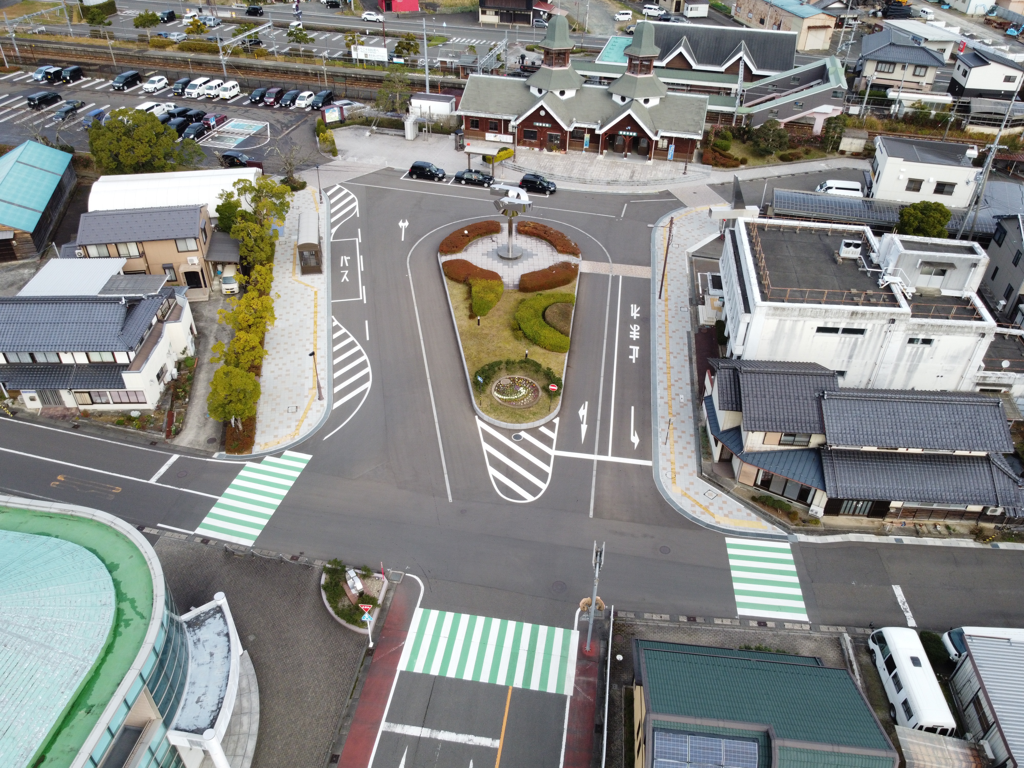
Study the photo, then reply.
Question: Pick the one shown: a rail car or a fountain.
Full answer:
I can see a rail car in this picture.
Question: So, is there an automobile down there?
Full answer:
Yes, I can see an automobile in this picture.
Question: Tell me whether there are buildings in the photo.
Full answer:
Yes, the photo shows a building.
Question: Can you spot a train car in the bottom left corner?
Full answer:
No, no train car is visible in the bottom left corner.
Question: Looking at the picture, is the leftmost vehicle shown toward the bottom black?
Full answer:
No, the color of the leftmost vehicle shown toward the bottom is white.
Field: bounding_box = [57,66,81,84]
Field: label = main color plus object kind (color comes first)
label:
black car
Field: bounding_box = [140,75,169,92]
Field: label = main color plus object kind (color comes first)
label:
white car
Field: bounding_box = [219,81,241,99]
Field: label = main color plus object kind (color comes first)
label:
white car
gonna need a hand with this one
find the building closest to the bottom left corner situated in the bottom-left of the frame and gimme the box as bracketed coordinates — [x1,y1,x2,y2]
[0,496,193,768]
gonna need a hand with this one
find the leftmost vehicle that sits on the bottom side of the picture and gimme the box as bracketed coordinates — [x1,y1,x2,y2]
[870,631,959,738]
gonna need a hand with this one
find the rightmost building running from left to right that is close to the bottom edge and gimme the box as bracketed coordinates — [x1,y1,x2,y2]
[627,631,907,768]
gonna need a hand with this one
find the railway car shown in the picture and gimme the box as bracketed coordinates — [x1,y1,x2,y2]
[515,49,543,78]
